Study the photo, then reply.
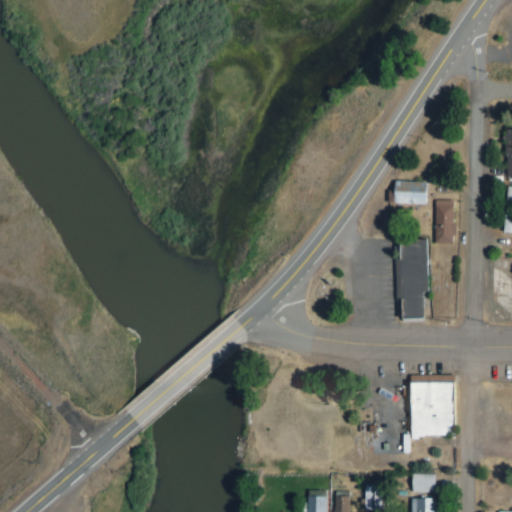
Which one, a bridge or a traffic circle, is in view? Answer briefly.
bridge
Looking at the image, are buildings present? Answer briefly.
Yes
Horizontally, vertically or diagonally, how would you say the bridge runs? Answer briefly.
diagonally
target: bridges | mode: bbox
[118,310,256,442]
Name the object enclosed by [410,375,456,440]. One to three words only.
building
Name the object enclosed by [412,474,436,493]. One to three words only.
building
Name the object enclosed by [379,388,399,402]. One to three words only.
vehicle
